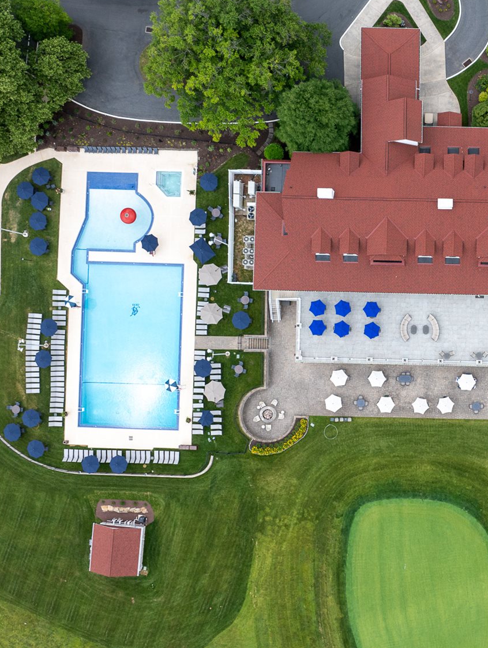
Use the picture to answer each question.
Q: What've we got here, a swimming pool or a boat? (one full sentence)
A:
Looking from above, you can make out a swimming pool.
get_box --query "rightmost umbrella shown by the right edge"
[455,373,476,391]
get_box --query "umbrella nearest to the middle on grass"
[232,310,251,329]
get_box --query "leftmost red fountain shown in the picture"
[122,208,139,224]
